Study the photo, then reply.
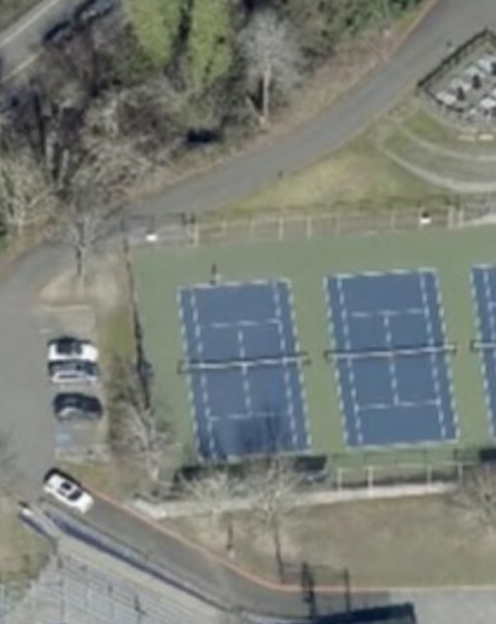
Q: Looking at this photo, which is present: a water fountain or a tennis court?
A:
tennis court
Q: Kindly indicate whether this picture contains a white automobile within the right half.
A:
No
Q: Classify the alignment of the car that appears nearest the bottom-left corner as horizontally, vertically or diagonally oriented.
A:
diagonally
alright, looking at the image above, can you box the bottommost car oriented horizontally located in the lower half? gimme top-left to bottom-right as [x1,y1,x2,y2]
[55,398,103,421]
